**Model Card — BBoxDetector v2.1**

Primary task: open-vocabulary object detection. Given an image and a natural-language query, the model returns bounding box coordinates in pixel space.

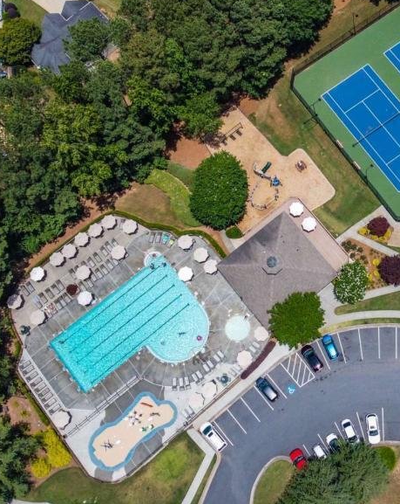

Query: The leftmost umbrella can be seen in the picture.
[7,293,24,310]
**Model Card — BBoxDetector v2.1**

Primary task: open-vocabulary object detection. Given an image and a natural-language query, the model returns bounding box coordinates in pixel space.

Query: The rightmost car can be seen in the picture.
[366,412,381,444]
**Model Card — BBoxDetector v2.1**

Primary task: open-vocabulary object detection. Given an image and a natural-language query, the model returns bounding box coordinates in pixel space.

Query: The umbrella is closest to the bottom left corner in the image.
[53,409,70,427]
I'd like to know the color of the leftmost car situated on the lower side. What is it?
white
